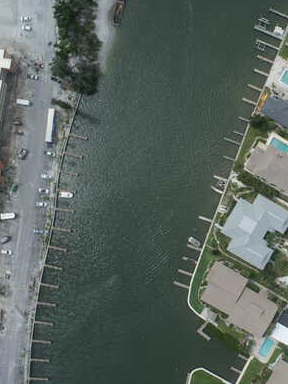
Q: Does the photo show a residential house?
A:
Yes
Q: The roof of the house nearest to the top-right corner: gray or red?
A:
gray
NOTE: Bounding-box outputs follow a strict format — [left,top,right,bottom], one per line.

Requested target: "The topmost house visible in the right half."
[263,96,288,129]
